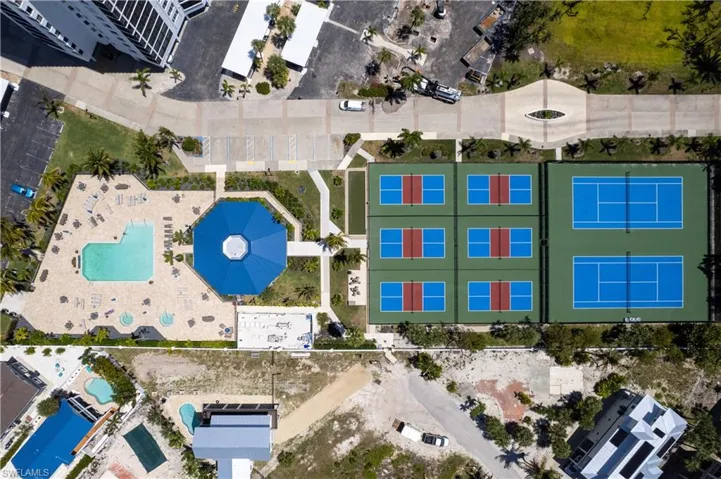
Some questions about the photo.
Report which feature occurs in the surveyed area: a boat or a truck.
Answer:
truck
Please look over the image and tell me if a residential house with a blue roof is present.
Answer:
Yes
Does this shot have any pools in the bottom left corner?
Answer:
Yes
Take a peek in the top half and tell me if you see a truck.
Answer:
Yes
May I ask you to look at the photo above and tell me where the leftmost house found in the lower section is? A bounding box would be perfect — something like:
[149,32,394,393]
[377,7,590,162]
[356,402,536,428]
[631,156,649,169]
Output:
[0,356,53,438]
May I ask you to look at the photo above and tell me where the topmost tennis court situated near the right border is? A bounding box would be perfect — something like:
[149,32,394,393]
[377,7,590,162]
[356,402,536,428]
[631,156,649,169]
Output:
[549,162,708,243]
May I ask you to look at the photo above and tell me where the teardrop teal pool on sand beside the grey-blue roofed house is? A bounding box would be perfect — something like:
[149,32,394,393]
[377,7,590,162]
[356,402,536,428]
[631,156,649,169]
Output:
[177,402,198,437]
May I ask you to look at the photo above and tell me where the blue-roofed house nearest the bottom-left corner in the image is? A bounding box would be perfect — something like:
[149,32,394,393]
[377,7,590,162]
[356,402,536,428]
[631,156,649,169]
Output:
[0,391,116,479]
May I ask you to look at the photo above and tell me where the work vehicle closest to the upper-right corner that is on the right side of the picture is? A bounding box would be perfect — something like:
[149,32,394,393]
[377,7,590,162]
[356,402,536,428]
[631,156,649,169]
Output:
[467,68,485,85]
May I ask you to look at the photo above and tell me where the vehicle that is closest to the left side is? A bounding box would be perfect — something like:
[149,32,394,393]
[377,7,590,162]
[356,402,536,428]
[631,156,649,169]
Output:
[9,183,35,198]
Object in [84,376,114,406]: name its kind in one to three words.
swimming pool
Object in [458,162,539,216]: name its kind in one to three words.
sports court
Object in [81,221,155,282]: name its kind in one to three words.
swimming pool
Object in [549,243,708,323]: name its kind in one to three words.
tennis court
